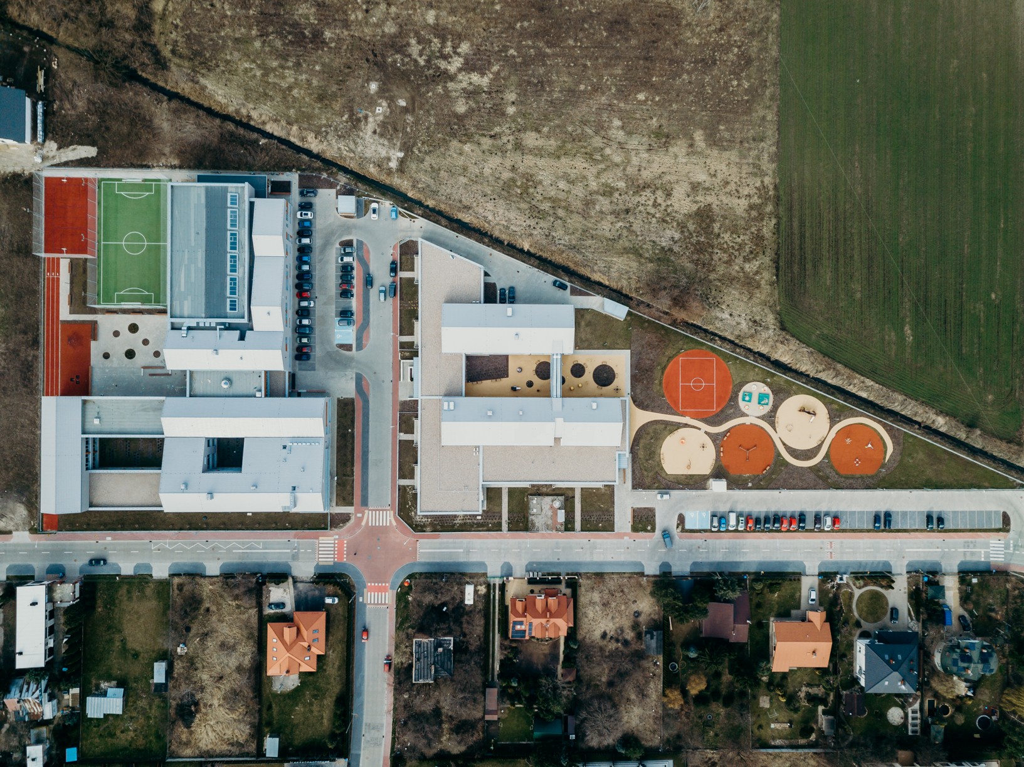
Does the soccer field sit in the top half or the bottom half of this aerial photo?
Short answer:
top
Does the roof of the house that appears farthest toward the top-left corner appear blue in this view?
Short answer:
Yes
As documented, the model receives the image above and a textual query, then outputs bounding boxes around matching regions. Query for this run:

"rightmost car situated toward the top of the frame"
[552,279,569,291]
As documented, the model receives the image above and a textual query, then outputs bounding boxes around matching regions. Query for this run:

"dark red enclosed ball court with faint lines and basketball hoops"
[44,177,97,256]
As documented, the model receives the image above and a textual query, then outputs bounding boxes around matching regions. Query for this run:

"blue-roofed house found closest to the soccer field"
[0,88,36,147]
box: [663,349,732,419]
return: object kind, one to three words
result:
sports court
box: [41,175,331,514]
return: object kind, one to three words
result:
building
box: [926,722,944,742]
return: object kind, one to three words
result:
shed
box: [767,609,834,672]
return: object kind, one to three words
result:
house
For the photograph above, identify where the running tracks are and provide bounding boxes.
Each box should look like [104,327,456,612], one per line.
[46,257,60,396]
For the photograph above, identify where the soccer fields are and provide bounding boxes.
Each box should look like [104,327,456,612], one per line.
[97,177,168,306]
